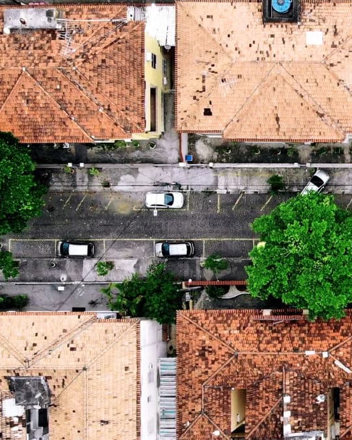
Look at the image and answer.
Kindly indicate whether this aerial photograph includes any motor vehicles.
Yes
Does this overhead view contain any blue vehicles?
No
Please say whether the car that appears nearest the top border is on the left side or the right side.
right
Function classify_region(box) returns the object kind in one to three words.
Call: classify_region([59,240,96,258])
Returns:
car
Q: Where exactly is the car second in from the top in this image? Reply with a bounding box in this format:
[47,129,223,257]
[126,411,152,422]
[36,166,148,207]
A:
[147,193,184,209]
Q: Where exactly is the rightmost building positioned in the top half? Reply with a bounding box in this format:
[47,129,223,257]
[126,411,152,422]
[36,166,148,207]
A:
[175,0,352,144]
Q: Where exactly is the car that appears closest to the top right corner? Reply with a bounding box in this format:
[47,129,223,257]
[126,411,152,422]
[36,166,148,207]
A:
[300,166,331,197]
